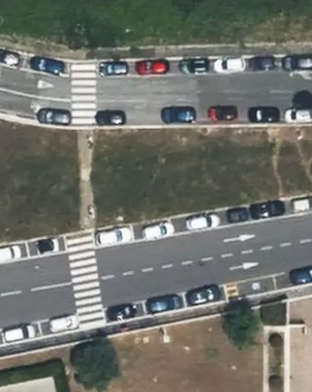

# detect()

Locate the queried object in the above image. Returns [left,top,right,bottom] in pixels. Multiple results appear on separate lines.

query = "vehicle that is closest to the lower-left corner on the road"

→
[3,323,35,343]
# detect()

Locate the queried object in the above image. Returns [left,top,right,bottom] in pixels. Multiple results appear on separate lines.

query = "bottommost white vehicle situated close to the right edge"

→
[290,194,312,213]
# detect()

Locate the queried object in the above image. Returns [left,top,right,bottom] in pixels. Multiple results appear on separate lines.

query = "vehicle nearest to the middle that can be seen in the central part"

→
[142,220,173,239]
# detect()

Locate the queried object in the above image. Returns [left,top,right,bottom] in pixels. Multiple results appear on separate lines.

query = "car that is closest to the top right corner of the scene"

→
[282,54,312,71]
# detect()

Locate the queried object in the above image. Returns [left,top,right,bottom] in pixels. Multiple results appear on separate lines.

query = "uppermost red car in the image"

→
[136,59,169,76]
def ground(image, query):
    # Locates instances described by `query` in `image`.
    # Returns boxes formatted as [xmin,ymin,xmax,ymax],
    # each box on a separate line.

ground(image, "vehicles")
[214,56,245,74]
[209,105,237,122]
[186,286,221,304]
[96,226,131,245]
[282,54,312,71]
[0,243,21,261]
[248,105,279,123]
[186,212,219,230]
[248,199,285,219]
[35,236,58,253]
[106,303,137,320]
[290,194,312,213]
[162,105,196,124]
[146,294,183,313]
[285,107,312,123]
[38,107,71,125]
[29,55,66,75]
[95,109,124,126]
[136,59,169,76]
[0,48,20,67]
[3,323,35,343]
[225,205,249,223]
[289,266,312,285]
[48,314,78,333]
[248,55,275,71]
[142,220,173,239]
[179,57,209,73]
[99,60,127,77]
